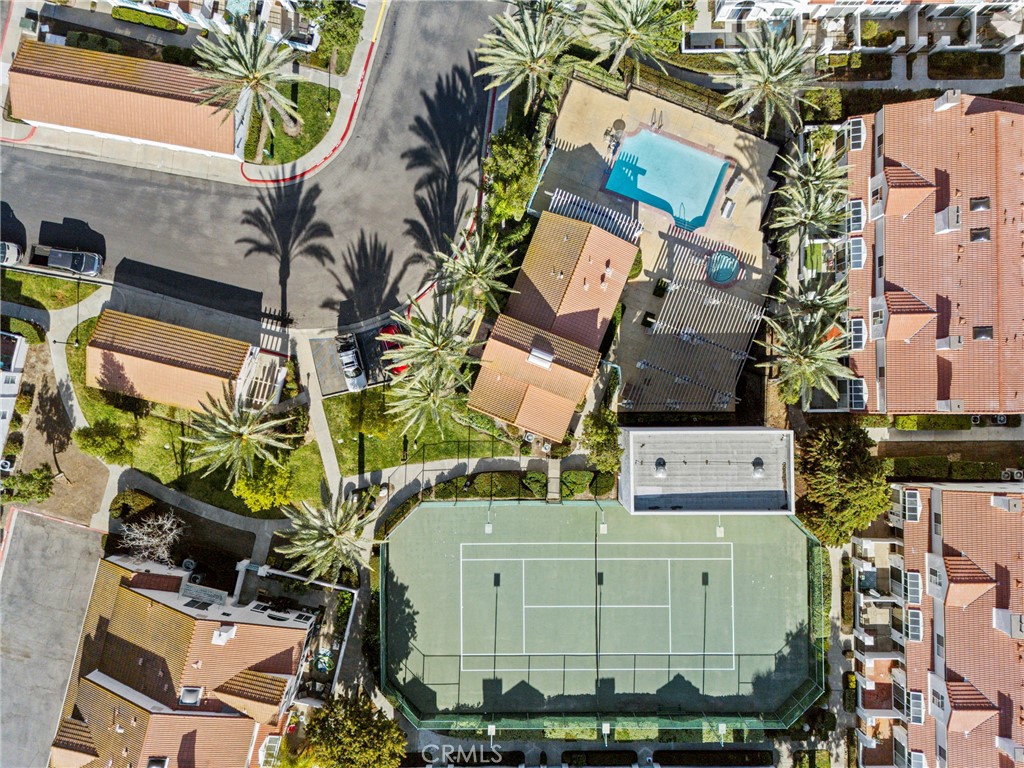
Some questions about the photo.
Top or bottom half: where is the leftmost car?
top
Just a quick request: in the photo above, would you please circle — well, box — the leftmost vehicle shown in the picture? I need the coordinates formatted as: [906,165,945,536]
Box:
[0,236,23,265]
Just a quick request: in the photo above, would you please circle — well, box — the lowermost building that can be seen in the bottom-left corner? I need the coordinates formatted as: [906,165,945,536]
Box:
[45,555,317,768]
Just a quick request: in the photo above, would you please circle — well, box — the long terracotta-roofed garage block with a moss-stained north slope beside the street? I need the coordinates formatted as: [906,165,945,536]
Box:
[9,40,246,159]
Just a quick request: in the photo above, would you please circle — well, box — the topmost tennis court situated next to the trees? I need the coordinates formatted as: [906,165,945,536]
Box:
[387,500,809,713]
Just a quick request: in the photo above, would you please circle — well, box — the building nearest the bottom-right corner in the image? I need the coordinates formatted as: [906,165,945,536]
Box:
[890,484,1024,768]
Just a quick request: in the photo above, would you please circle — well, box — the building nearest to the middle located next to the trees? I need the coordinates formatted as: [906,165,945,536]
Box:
[467,211,638,439]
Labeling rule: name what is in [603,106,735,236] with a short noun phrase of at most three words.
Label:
swimming pool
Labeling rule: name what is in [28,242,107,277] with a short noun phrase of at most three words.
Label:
truck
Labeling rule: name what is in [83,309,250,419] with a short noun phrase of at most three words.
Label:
building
